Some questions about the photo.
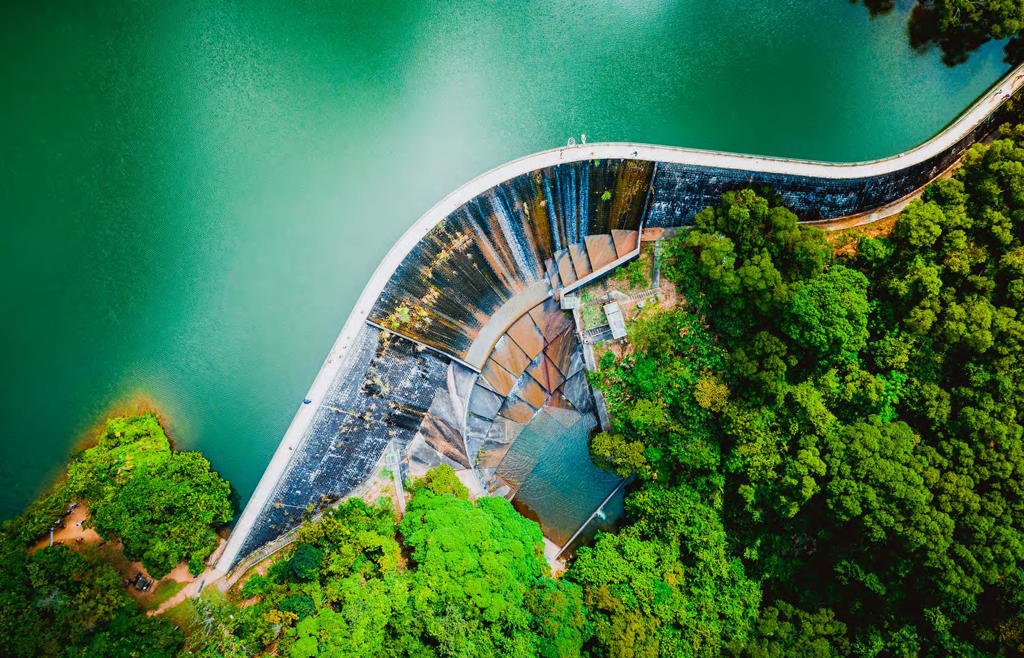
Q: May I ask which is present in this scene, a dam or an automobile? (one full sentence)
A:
Visible in the photo is a dam.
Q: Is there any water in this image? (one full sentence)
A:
Yes, some water is visible.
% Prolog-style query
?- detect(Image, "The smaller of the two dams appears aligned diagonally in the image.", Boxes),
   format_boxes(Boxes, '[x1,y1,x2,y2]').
[555,475,628,560]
